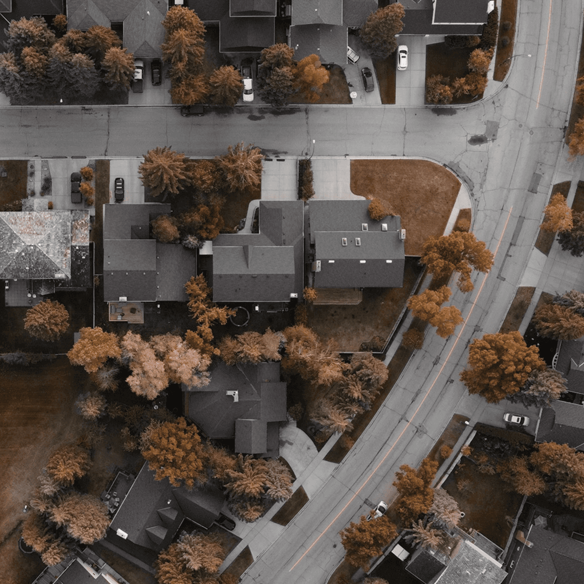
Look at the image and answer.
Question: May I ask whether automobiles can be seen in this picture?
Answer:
Yes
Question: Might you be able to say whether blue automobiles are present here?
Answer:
No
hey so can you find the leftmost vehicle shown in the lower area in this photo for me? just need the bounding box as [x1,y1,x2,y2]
[217,513,236,529]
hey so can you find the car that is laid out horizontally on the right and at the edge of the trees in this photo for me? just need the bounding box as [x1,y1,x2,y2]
[500,413,528,426]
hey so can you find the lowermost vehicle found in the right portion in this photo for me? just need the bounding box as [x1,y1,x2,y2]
[368,495,389,520]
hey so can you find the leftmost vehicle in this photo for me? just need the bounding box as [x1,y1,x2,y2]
[69,172,82,204]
